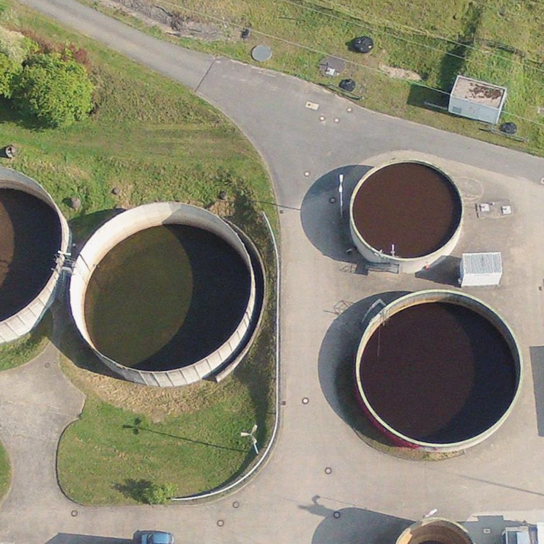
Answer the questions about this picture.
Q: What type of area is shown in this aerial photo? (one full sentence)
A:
This image shows an industrial area.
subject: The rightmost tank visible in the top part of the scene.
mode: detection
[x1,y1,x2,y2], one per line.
[350,157,461,275]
